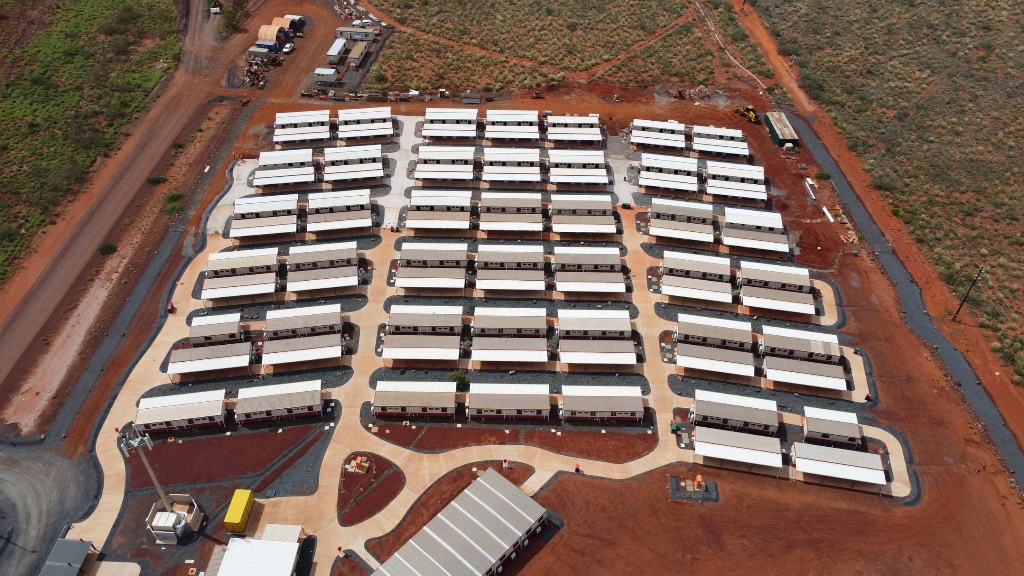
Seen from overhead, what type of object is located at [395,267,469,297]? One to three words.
building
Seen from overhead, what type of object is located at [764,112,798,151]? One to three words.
shed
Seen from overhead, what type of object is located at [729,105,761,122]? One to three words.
work vehicle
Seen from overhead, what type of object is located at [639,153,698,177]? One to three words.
building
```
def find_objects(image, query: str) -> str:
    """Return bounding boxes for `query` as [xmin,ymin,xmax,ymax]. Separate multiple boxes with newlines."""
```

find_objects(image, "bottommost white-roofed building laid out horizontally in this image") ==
[212,538,301,576]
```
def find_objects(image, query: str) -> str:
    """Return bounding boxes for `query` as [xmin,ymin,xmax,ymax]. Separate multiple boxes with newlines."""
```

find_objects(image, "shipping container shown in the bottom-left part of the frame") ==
[224,489,257,534]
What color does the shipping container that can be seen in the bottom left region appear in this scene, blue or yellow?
yellow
